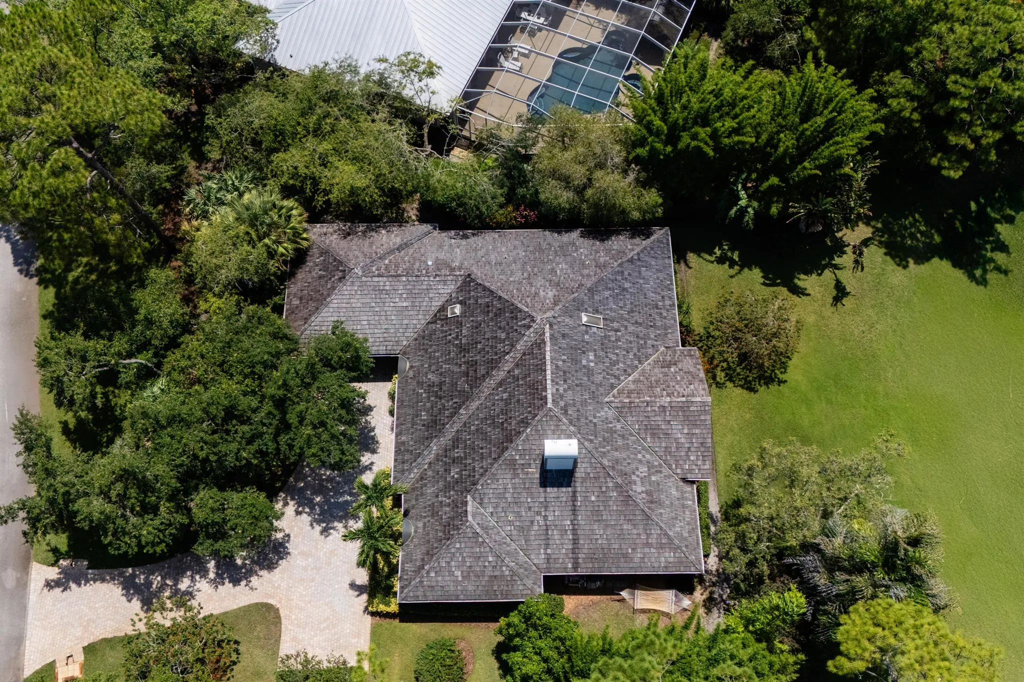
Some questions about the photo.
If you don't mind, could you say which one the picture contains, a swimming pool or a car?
swimming pool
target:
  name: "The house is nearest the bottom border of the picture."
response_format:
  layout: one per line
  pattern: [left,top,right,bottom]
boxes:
[279,222,713,604]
